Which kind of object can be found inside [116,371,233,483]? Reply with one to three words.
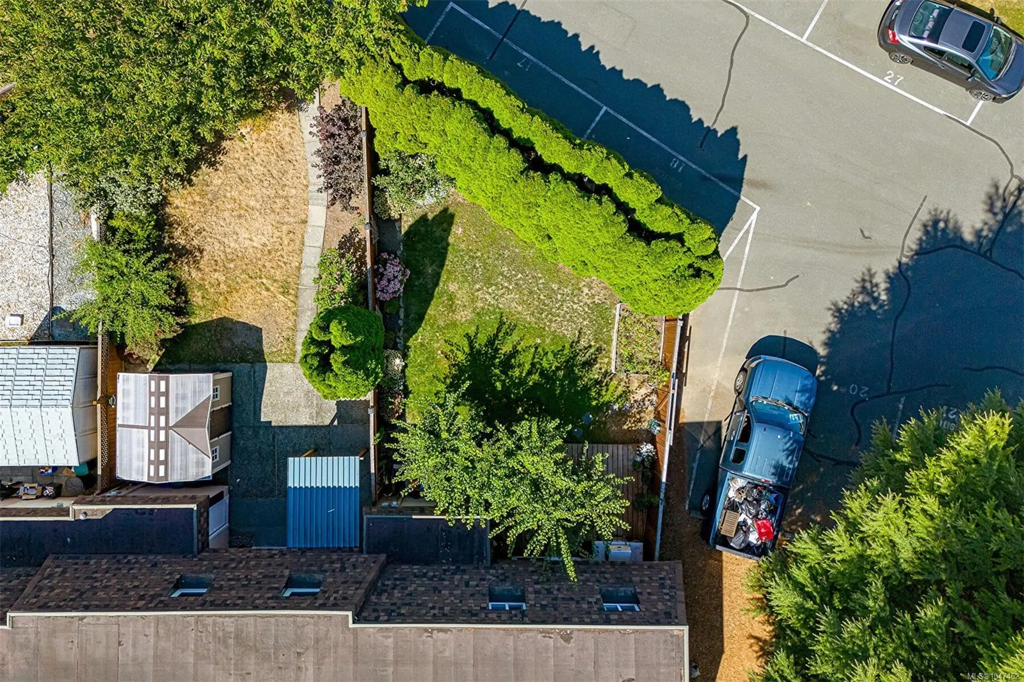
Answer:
shed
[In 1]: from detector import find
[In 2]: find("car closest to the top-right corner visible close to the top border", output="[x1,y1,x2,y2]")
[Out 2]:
[875,0,1024,103]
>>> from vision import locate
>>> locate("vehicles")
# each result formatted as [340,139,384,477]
[705,354,818,561]
[875,0,1024,103]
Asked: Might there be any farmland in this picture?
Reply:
No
